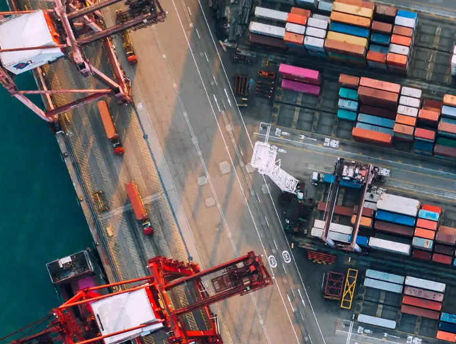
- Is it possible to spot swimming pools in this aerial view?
No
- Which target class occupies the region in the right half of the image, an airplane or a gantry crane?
gantry crane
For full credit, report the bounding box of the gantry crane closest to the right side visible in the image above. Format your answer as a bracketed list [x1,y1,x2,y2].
[325,153,382,252]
